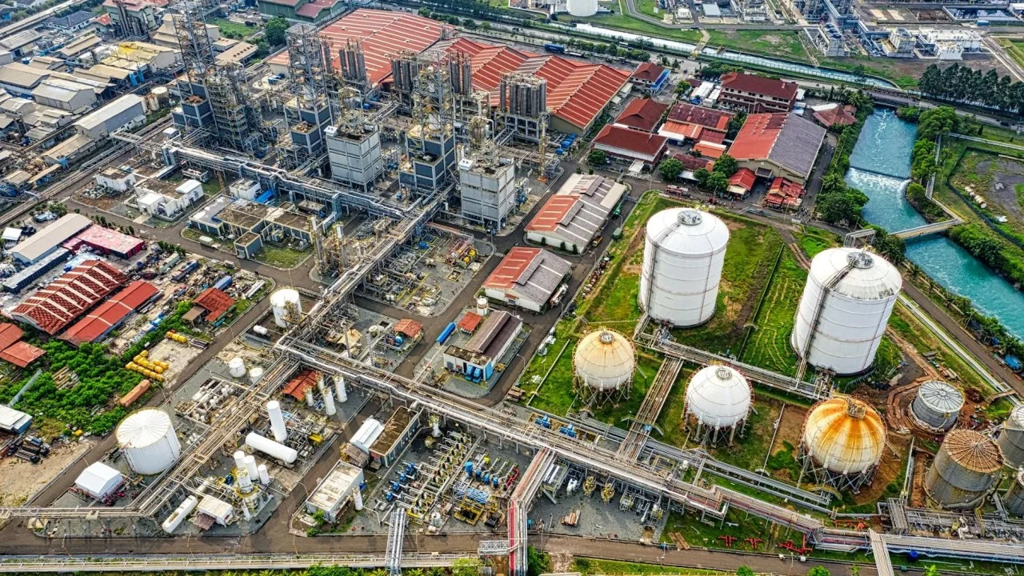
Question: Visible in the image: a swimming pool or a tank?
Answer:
tank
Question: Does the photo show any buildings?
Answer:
Yes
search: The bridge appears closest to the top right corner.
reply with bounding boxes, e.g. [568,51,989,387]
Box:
[855,86,935,108]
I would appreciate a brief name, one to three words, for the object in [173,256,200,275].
vehicle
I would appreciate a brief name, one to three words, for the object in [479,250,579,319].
building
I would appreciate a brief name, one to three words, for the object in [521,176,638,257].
building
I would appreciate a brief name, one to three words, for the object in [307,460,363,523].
shed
